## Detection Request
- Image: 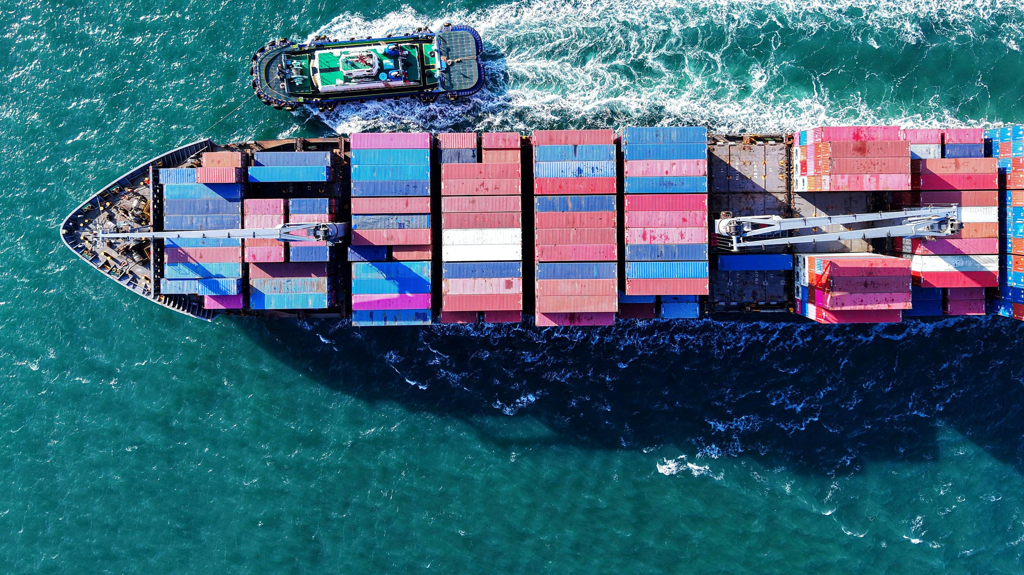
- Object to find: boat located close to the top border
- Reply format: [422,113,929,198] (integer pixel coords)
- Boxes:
[249,24,484,110]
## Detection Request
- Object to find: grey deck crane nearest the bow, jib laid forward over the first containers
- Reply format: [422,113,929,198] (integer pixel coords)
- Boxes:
[97,215,354,247]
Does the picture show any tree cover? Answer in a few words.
No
